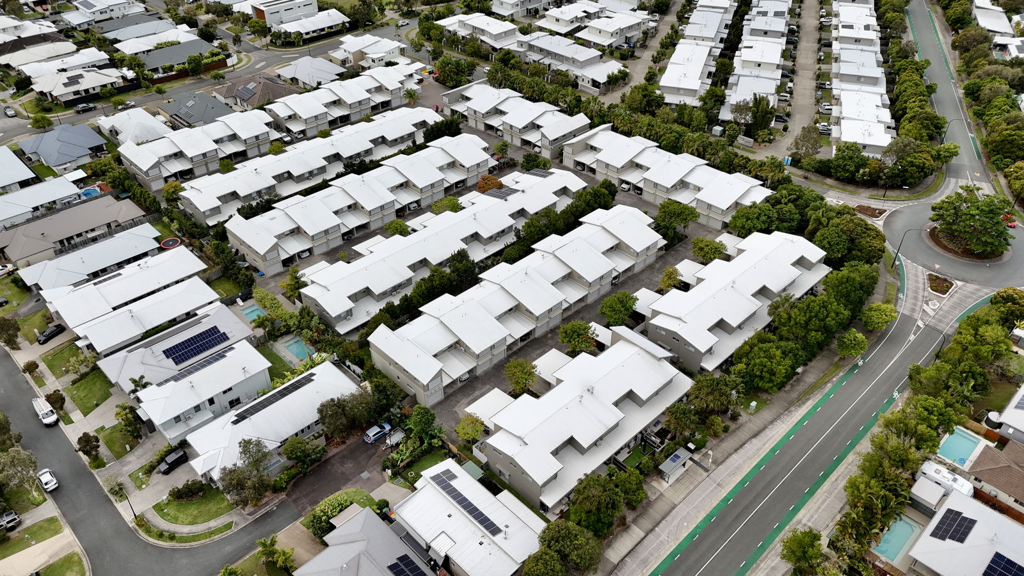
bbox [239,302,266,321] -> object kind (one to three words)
swimming pool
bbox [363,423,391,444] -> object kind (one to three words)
car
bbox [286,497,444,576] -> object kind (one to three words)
house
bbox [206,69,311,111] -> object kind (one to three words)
house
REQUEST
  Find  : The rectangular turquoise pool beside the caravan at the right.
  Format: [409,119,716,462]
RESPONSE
[935,424,984,469]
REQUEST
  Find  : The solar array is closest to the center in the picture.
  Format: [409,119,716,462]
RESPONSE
[484,186,523,200]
